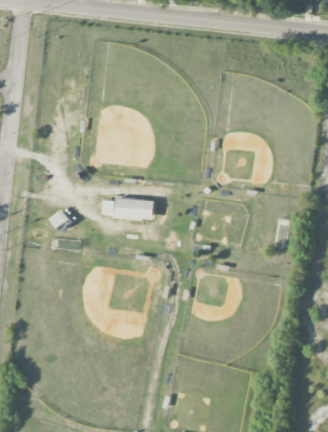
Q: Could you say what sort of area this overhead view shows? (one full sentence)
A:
It's a sports ground.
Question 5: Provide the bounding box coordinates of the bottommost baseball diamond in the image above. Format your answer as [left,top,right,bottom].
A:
[166,355,252,432]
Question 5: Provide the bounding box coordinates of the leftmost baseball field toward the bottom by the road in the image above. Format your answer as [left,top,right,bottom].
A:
[20,253,168,431]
